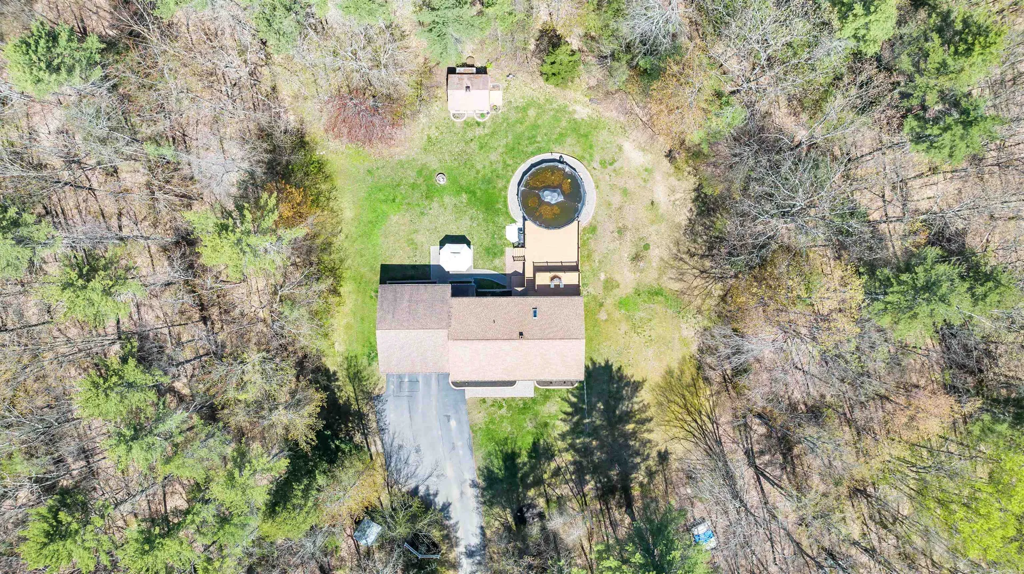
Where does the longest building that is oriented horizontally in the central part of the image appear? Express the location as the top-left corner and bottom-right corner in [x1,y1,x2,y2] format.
[376,283,585,382]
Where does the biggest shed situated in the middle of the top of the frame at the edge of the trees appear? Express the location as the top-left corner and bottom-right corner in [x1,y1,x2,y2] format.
[447,68,489,115]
